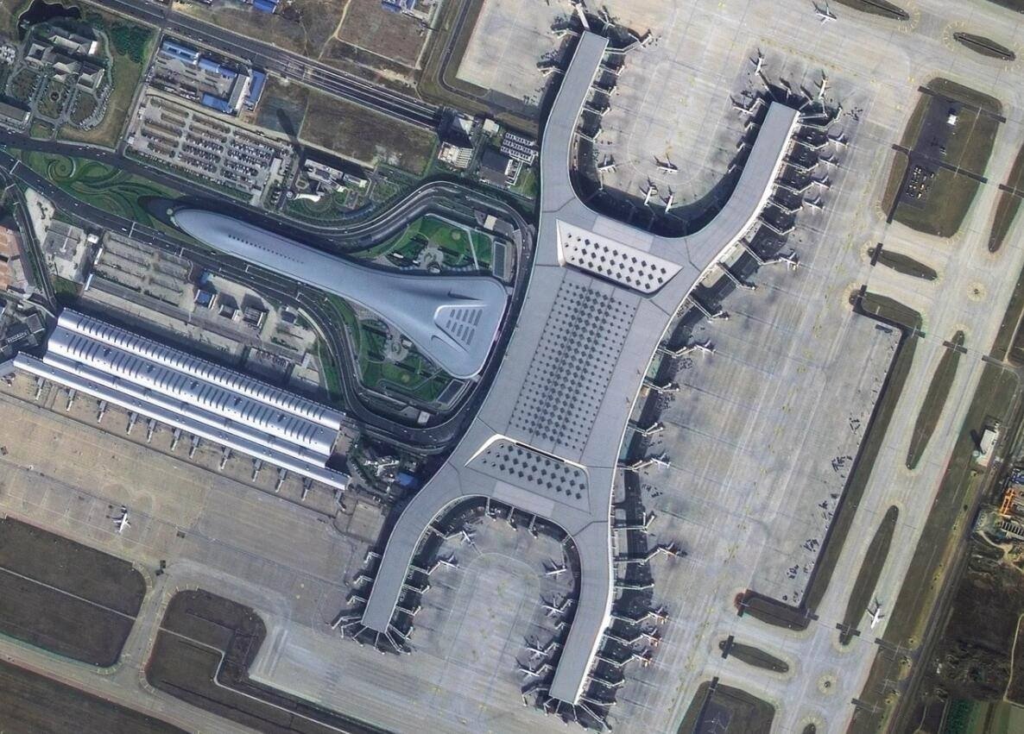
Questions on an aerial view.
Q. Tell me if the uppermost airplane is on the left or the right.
right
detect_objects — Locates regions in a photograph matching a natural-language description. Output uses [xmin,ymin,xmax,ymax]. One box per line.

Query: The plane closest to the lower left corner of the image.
[113,513,130,534]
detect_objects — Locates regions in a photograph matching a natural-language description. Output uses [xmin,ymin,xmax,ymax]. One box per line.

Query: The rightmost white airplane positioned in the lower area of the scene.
[867,606,886,629]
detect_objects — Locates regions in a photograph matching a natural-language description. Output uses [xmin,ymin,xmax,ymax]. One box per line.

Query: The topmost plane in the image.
[814,3,836,23]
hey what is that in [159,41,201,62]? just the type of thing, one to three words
shed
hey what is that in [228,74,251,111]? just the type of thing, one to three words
building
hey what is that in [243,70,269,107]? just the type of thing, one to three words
shed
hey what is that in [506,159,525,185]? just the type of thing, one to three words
building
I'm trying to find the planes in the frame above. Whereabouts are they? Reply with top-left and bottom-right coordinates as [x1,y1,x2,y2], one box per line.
[811,176,831,196]
[732,99,752,118]
[696,341,716,360]
[642,628,662,648]
[814,76,832,98]
[541,598,564,618]
[867,606,886,629]
[633,650,653,669]
[662,192,679,213]
[598,156,617,175]
[781,252,801,271]
[803,197,825,216]
[440,556,460,575]
[659,544,680,563]
[526,640,548,660]
[644,186,659,206]
[113,513,130,534]
[827,133,849,153]
[657,158,679,178]
[818,153,839,172]
[649,606,670,626]
[463,530,476,548]
[545,563,567,583]
[814,3,836,23]
[751,55,769,76]
[653,454,672,472]
[517,662,539,682]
